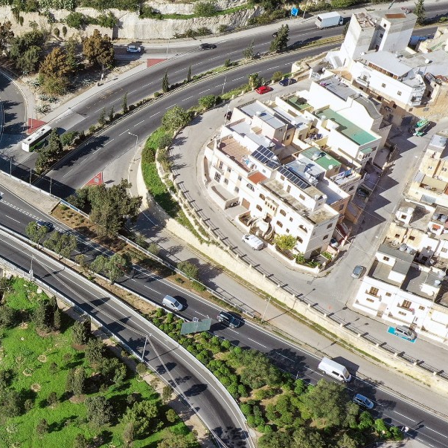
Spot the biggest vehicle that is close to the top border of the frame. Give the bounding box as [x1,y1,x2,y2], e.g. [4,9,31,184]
[320,8,345,25]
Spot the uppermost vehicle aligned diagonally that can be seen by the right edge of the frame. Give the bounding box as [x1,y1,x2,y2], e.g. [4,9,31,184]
[410,115,429,138]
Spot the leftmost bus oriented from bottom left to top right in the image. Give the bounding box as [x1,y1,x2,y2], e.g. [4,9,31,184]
[19,119,55,152]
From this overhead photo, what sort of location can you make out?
residential area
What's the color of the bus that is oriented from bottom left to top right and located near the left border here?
white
